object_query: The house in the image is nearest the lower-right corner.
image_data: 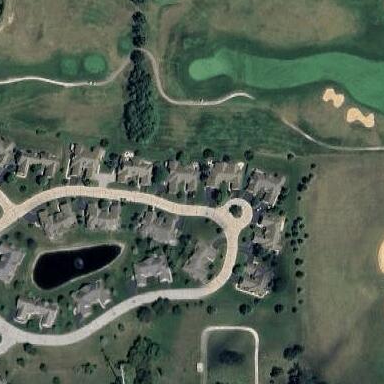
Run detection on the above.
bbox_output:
[237,258,279,300]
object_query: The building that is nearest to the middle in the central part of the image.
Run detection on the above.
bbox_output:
[166,161,199,193]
